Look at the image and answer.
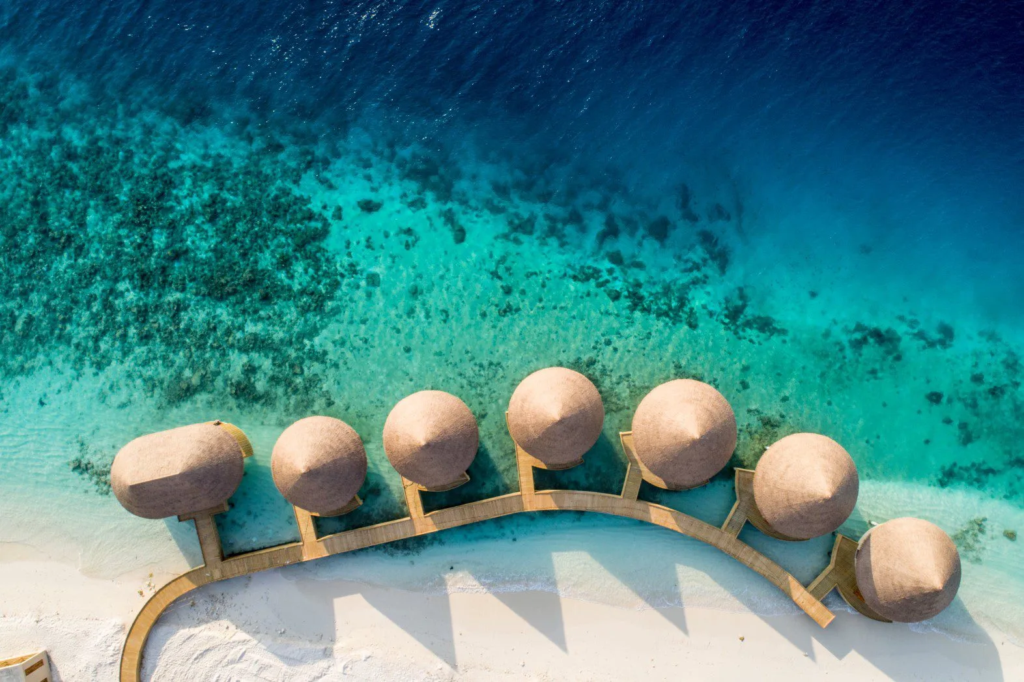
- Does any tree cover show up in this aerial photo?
No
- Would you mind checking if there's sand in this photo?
Yes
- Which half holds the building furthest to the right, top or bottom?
bottom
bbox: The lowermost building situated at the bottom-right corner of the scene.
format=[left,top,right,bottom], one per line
[805,516,960,623]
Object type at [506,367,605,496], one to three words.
building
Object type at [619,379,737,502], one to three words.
building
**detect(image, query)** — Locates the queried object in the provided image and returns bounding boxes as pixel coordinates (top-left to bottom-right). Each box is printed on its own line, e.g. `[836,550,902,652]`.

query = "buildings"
[721,432,858,542]
[111,420,255,567]
[0,651,49,682]
[506,367,605,496]
[383,390,479,521]
[271,416,368,545]
[619,379,737,502]
[805,516,960,623]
